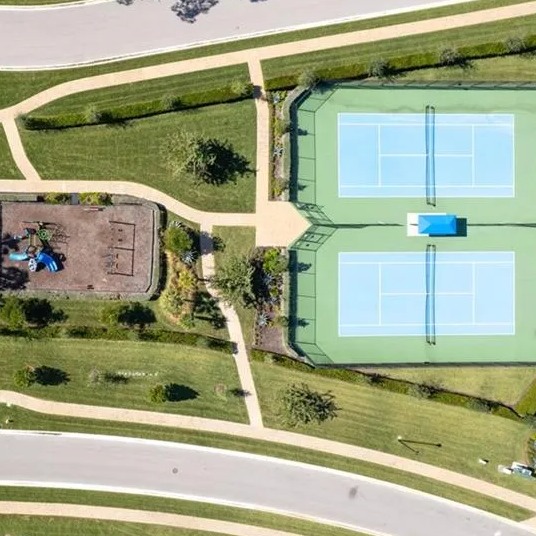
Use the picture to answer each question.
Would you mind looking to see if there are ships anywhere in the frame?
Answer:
No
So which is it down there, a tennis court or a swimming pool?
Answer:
tennis court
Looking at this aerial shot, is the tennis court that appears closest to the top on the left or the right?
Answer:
right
